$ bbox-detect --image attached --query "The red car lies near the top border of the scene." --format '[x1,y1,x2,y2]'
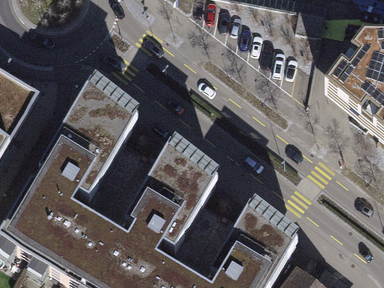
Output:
[204,5,217,28]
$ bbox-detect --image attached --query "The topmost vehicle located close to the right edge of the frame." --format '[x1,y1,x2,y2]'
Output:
[354,199,376,218]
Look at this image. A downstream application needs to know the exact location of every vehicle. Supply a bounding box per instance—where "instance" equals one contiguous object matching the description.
[140,37,166,58]
[282,145,307,168]
[284,59,298,86]
[354,199,376,218]
[192,2,204,26]
[108,0,125,20]
[250,36,264,62]
[272,54,286,82]
[148,121,174,143]
[229,16,242,40]
[204,5,217,28]
[260,45,273,71]
[238,28,251,54]
[196,82,218,102]
[100,54,127,74]
[356,246,376,266]
[218,10,230,36]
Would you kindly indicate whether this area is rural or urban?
urban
